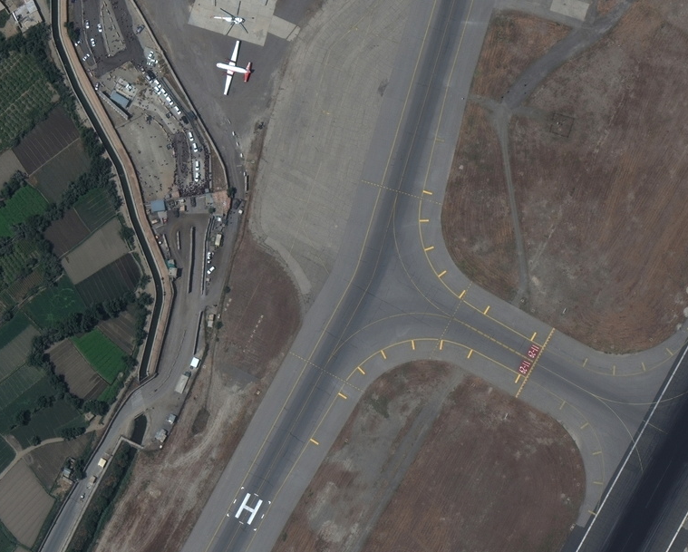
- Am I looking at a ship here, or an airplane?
airplane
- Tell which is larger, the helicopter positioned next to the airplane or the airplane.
the airplane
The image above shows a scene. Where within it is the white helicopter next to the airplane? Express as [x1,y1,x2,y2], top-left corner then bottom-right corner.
[209,2,252,34]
